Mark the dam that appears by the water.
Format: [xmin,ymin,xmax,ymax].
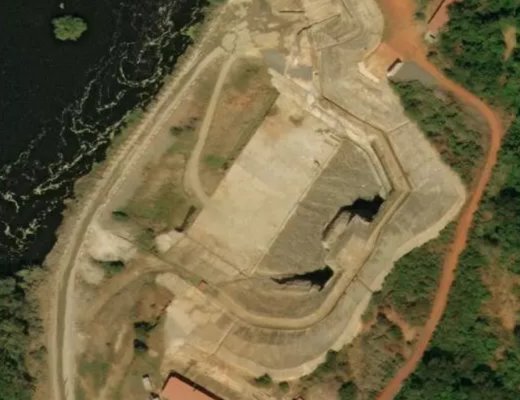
[28,0,254,400]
